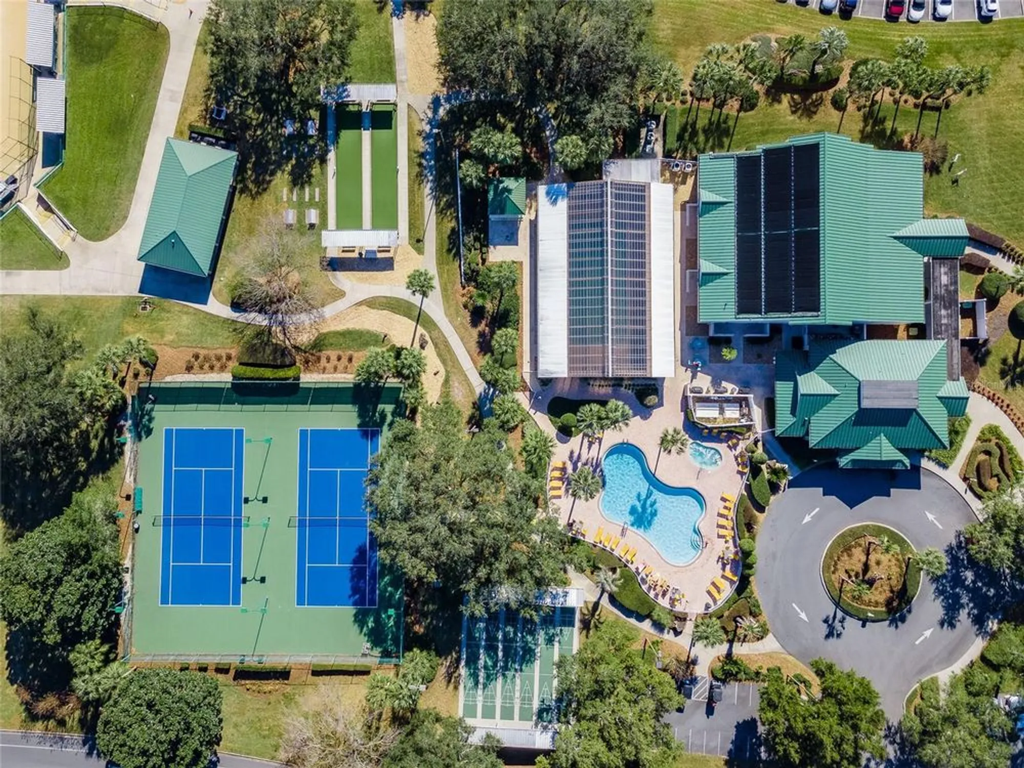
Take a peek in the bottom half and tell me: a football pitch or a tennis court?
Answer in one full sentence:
The one visible in the bottom half is a tennis court.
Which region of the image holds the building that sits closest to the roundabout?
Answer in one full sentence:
Look in the right portion of the view to spot the building that sits closest to the roundabout.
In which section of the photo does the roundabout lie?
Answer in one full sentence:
You can find the roundabout in the bottom right area of the picture.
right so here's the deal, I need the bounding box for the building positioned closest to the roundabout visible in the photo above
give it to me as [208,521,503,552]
[769,339,969,468]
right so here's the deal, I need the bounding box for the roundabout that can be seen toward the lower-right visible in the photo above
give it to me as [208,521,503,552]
[757,460,984,768]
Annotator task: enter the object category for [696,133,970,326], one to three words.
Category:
building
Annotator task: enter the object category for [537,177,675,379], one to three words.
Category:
building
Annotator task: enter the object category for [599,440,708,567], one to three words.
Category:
swimming pool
